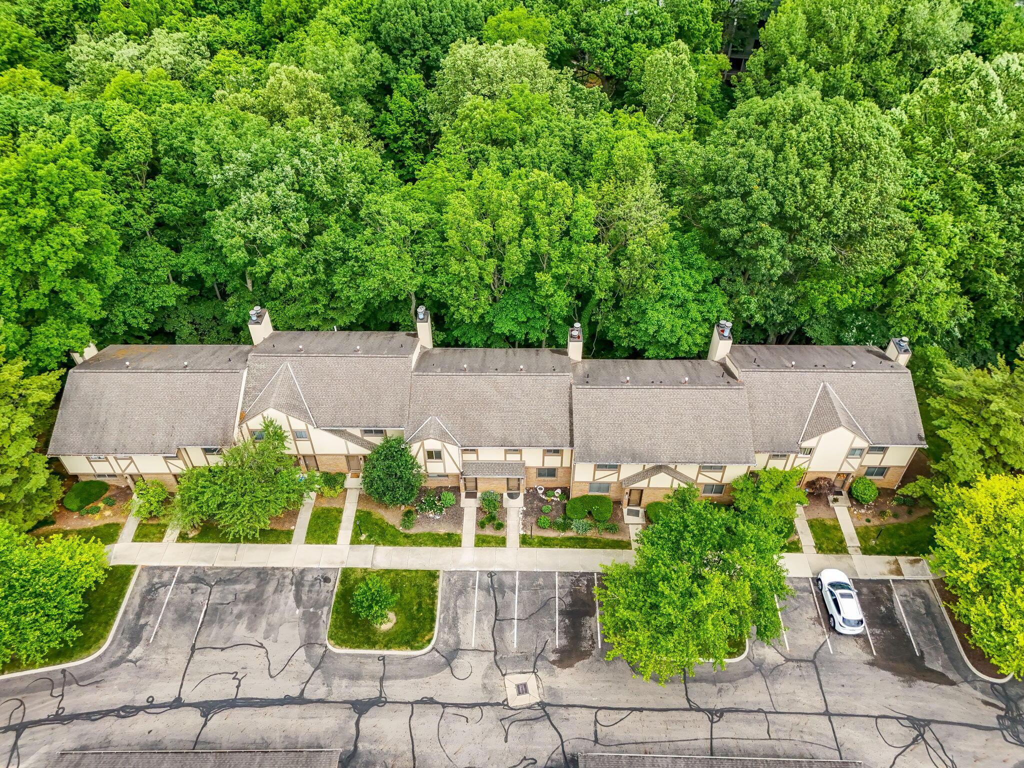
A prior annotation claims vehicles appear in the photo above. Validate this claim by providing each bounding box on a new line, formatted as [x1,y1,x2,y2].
[819,569,867,636]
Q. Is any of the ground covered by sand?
No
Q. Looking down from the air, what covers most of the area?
trees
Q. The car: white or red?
white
